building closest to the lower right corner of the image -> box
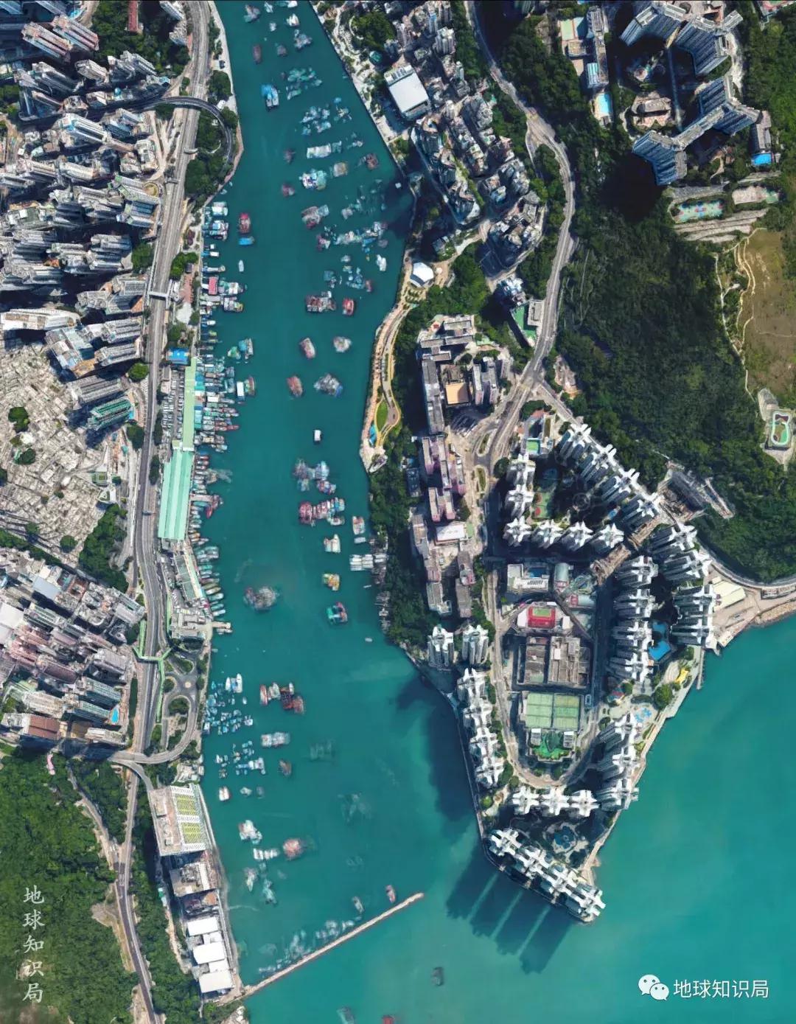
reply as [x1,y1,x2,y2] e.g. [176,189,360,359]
[562,869,605,917]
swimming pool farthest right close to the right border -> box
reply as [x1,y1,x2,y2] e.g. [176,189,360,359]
[749,152,773,168]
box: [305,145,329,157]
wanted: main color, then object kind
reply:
white boat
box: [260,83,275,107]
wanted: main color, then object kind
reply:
blue boat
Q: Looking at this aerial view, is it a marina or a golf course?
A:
marina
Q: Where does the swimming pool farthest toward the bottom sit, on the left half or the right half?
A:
right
